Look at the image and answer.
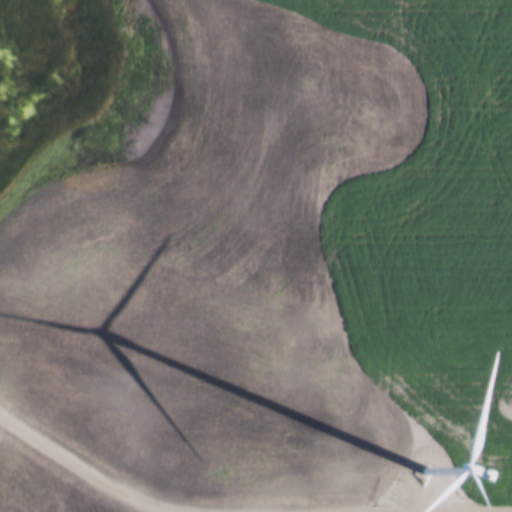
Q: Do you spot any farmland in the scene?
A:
Yes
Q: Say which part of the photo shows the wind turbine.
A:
bottom right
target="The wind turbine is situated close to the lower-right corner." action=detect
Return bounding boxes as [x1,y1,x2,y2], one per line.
[422,353,499,512]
